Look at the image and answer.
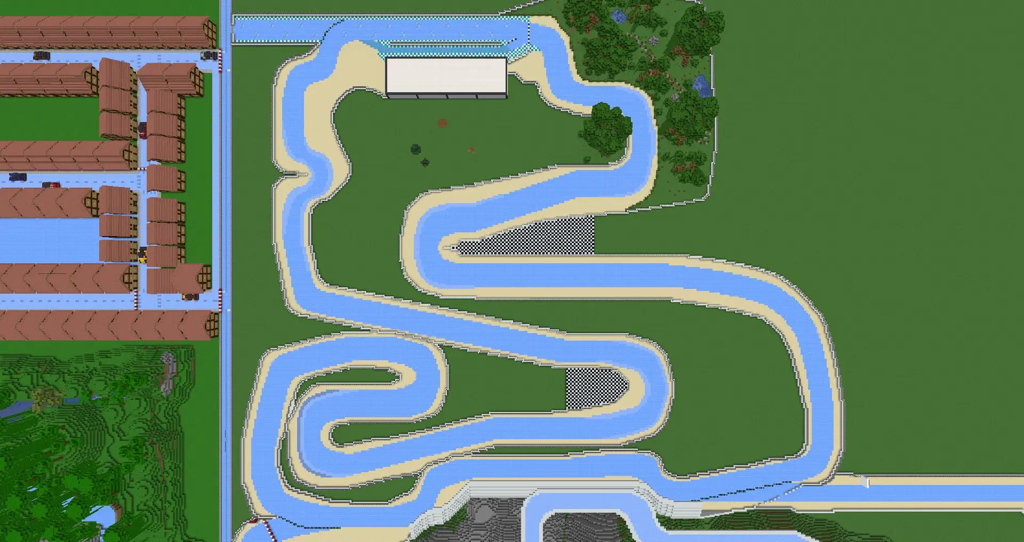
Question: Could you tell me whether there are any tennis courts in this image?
No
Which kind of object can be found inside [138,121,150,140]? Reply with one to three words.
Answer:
vehicle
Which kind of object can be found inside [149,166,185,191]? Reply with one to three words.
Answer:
house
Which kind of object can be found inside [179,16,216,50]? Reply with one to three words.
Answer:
house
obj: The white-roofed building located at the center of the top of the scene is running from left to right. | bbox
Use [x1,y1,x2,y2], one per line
[386,57,508,99]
